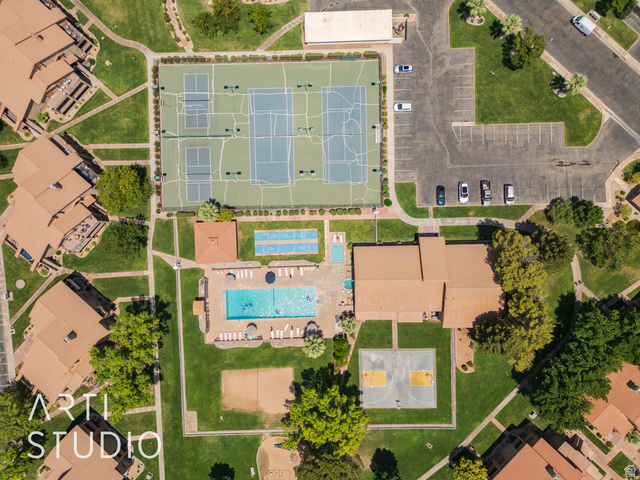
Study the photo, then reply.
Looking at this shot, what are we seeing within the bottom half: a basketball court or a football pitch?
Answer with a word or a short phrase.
basketball court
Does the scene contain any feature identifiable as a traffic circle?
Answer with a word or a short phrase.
No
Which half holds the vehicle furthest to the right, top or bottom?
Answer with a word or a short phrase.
top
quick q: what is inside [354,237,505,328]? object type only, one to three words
building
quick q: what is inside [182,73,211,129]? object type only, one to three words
sports court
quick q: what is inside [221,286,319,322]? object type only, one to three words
swimming pool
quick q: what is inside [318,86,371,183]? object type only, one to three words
tennis court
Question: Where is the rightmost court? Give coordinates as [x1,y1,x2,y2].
[359,348,437,409]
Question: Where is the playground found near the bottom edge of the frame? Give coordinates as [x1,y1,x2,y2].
[257,436,304,480]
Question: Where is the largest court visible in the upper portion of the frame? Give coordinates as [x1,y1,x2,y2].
[160,60,381,211]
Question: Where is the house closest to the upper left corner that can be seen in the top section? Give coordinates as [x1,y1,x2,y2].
[0,0,99,125]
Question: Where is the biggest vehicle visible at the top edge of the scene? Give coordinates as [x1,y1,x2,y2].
[569,14,600,38]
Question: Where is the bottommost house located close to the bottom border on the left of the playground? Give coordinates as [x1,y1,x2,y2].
[44,407,138,480]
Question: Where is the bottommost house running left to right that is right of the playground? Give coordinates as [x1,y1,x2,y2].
[480,424,604,480]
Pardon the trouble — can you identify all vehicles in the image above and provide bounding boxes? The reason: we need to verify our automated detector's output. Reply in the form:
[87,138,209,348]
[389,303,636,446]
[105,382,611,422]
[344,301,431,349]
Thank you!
[569,14,600,38]
[459,182,468,202]
[436,186,446,206]
[481,181,491,206]
[394,64,414,74]
[504,184,515,204]
[393,102,413,112]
